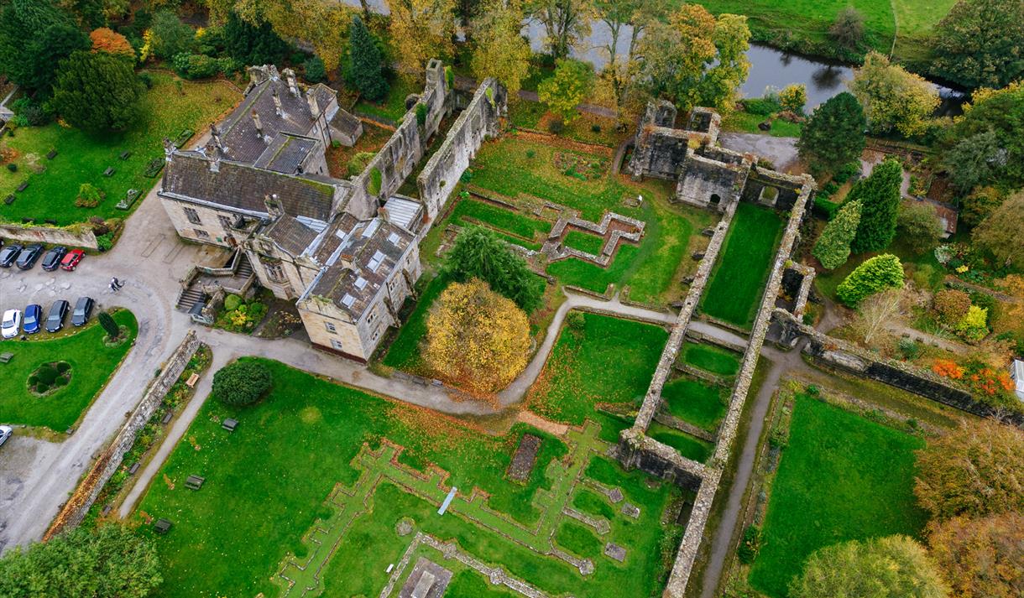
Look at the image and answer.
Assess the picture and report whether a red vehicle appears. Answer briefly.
Yes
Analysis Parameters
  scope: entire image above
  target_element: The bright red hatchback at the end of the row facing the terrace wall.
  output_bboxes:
[58,249,89,273]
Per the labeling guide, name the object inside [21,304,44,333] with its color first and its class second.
blue car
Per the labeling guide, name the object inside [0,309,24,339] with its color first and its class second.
white car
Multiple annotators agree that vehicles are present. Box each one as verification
[21,304,44,333]
[39,247,72,272]
[0,419,19,448]
[0,244,28,270]
[69,295,94,327]
[0,309,24,339]
[58,249,89,273]
[44,300,69,332]
[15,245,48,270]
